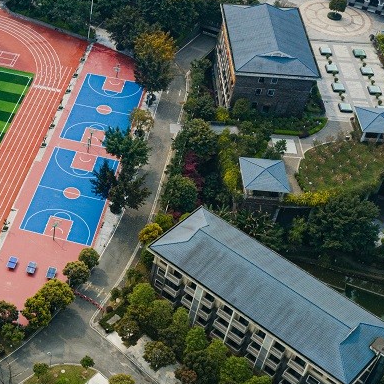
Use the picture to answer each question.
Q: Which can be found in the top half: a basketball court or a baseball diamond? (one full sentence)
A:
Looking in the top half, you will find a basketball court.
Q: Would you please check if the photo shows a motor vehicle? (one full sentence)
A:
No, the picture doesn't show any motor vehicle.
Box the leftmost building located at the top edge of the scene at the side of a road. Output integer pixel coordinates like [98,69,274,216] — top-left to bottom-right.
[214,0,322,116]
